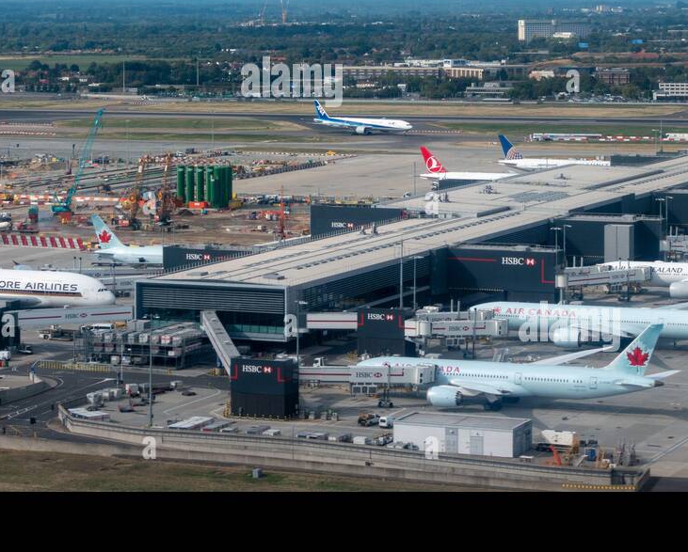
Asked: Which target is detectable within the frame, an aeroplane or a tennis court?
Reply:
aeroplane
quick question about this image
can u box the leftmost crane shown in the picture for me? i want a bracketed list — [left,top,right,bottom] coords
[49,106,106,223]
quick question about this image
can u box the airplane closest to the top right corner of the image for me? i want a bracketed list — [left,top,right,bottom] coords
[489,134,614,170]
